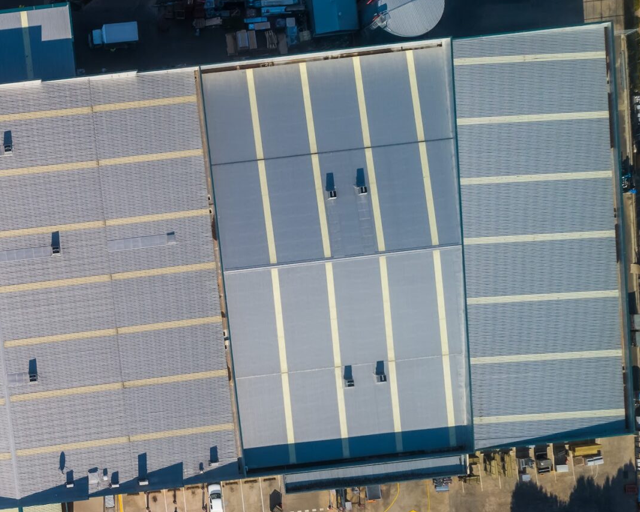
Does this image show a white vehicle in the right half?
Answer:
No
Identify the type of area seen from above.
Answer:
industrial area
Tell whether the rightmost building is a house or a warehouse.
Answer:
warehouse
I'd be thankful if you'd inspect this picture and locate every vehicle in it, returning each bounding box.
[206,483,225,512]
[90,19,141,47]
